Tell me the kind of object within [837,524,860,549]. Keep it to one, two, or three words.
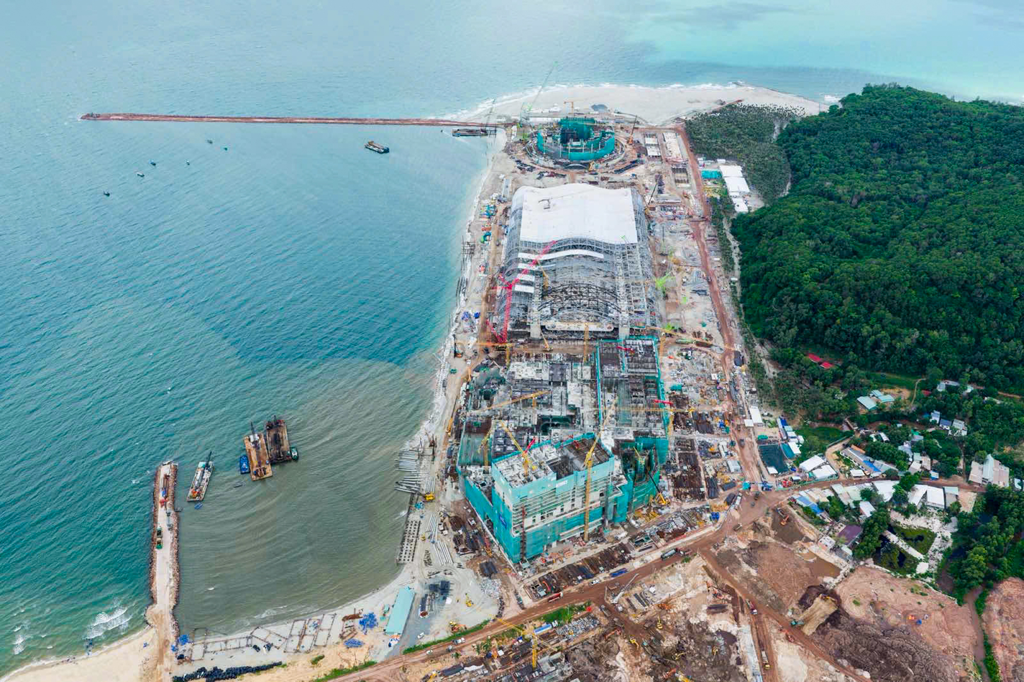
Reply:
house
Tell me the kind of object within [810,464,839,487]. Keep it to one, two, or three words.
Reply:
building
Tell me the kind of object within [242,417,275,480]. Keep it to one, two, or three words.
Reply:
ship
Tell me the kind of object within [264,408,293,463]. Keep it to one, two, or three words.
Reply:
ship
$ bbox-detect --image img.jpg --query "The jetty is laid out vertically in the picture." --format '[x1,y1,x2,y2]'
[140,459,184,645]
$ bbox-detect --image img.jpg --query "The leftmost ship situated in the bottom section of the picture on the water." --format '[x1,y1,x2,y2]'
[184,445,216,499]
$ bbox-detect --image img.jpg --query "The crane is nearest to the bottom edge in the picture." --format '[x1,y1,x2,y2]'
[495,616,561,670]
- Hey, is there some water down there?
Yes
